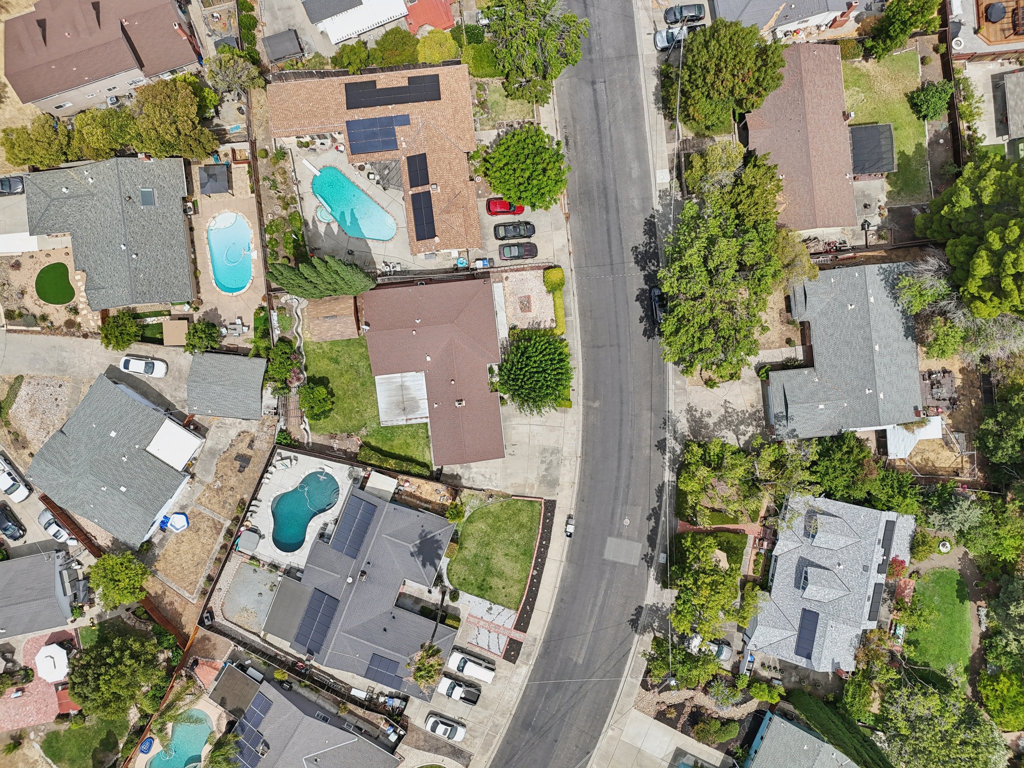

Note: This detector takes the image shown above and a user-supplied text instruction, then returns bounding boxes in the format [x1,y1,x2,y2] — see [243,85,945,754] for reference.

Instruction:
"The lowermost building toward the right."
[732,709,863,768]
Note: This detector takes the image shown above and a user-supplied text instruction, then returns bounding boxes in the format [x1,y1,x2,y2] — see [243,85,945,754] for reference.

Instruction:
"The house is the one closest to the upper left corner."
[4,0,211,116]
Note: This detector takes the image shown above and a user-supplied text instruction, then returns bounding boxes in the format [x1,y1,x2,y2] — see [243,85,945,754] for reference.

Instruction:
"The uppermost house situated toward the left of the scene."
[300,0,364,32]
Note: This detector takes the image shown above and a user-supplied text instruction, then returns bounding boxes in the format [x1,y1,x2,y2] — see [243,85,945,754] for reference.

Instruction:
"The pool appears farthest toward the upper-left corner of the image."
[204,207,256,297]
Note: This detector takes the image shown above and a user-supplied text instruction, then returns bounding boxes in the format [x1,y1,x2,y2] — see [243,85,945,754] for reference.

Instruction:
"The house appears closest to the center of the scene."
[358,278,506,467]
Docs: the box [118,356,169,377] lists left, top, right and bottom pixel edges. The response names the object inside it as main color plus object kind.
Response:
white car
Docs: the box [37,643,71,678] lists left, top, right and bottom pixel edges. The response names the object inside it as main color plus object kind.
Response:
white umbrella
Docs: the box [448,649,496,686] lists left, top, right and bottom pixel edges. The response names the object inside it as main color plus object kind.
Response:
white van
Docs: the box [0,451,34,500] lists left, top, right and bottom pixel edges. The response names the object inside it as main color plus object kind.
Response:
white car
